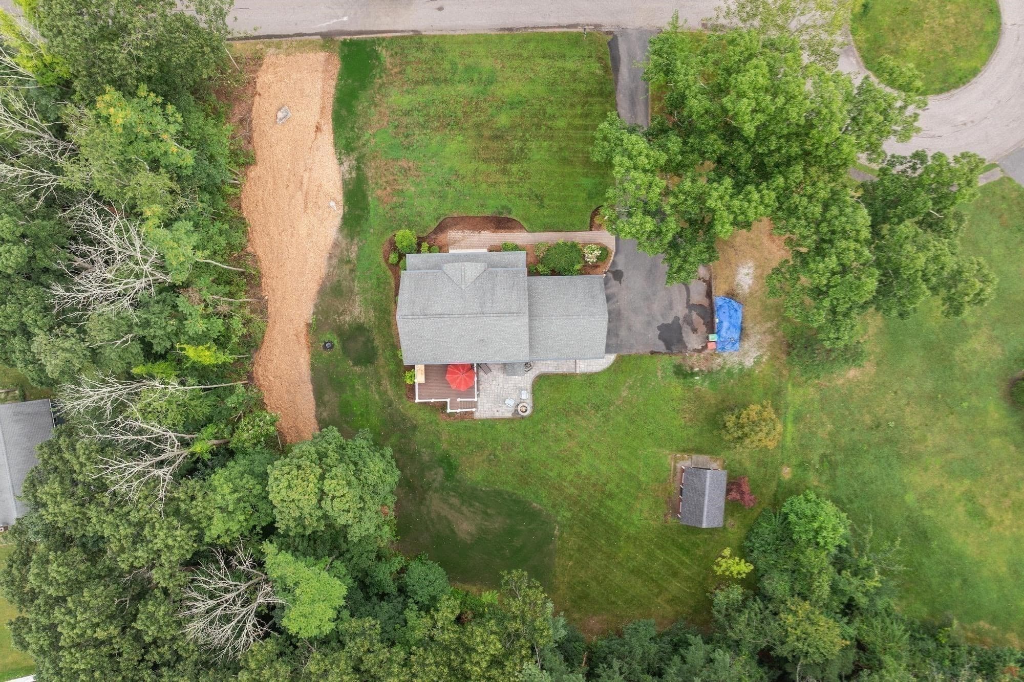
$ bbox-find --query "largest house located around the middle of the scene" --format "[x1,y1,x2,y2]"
[396,248,608,375]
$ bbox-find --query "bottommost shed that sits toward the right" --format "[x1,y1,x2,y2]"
[674,462,727,529]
